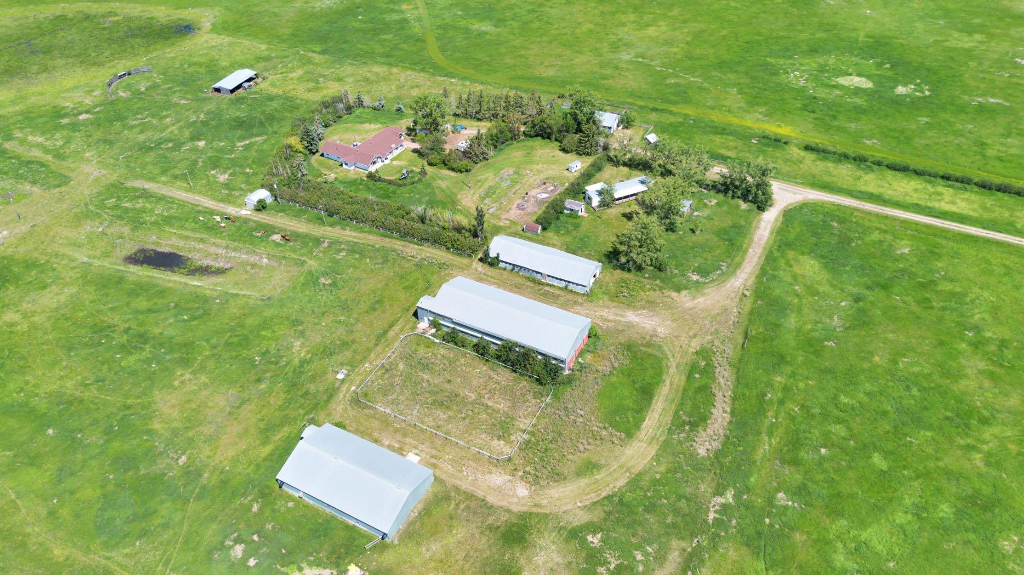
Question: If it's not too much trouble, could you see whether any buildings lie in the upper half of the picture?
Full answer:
Yes, a building shows up in the upper half of the picture.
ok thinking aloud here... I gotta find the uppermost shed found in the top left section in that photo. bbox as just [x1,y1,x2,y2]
[213,69,257,95]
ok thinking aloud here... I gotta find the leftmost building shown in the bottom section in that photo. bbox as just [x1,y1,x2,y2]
[278,423,432,542]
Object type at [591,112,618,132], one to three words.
shed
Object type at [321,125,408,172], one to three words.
house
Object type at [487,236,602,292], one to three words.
barn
